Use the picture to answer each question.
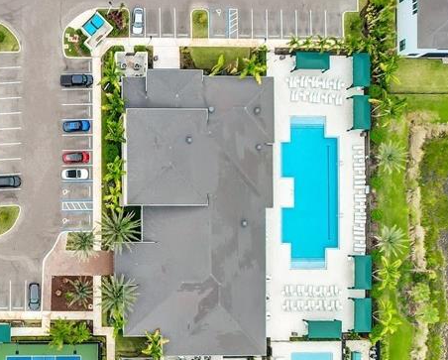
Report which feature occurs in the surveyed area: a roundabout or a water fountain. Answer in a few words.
water fountain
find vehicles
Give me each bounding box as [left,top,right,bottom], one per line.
[131,7,144,35]
[62,167,88,180]
[0,174,20,187]
[62,149,88,163]
[27,282,41,308]
[63,119,89,132]
[60,73,94,86]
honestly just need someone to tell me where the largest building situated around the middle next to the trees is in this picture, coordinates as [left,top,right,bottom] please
[113,68,274,356]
